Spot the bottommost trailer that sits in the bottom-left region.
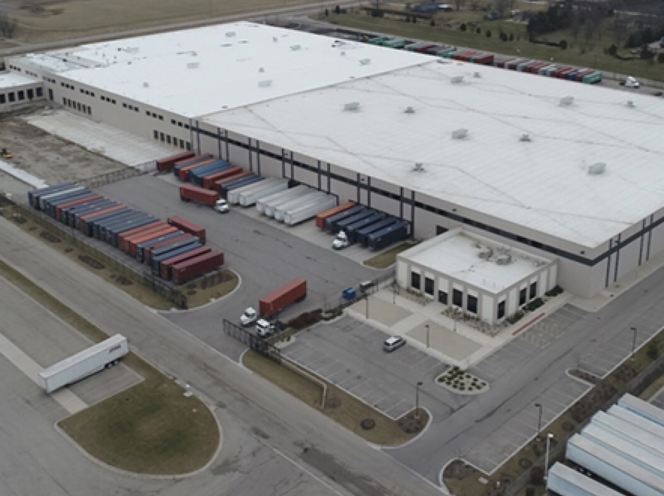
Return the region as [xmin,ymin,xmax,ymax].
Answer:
[36,335,132,391]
